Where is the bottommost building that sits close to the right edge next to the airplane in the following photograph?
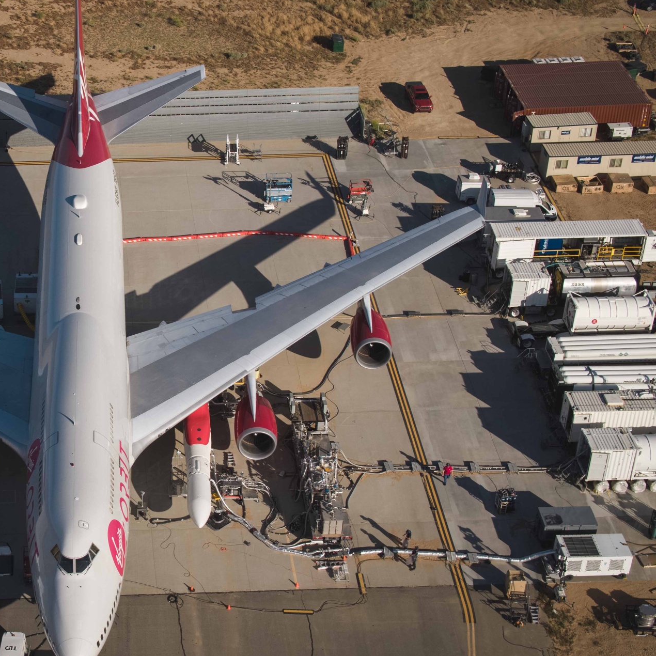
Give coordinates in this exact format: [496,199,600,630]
[538,138,656,180]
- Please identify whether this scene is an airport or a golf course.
airport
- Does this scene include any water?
No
